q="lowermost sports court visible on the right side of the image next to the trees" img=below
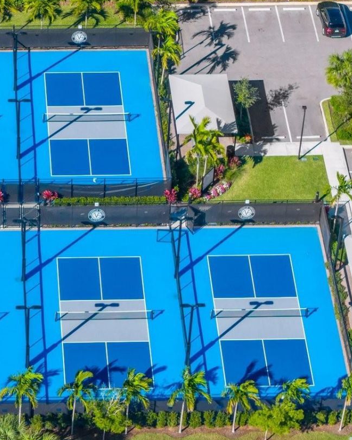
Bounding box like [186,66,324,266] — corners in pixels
[171,226,352,398]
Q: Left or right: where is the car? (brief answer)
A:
right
